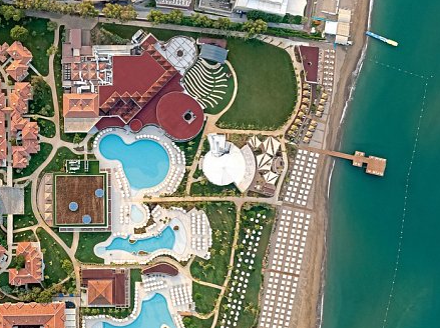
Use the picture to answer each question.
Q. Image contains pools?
Yes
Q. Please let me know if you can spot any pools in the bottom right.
No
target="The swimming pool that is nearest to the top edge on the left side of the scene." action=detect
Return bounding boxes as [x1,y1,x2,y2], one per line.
[99,133,171,190]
